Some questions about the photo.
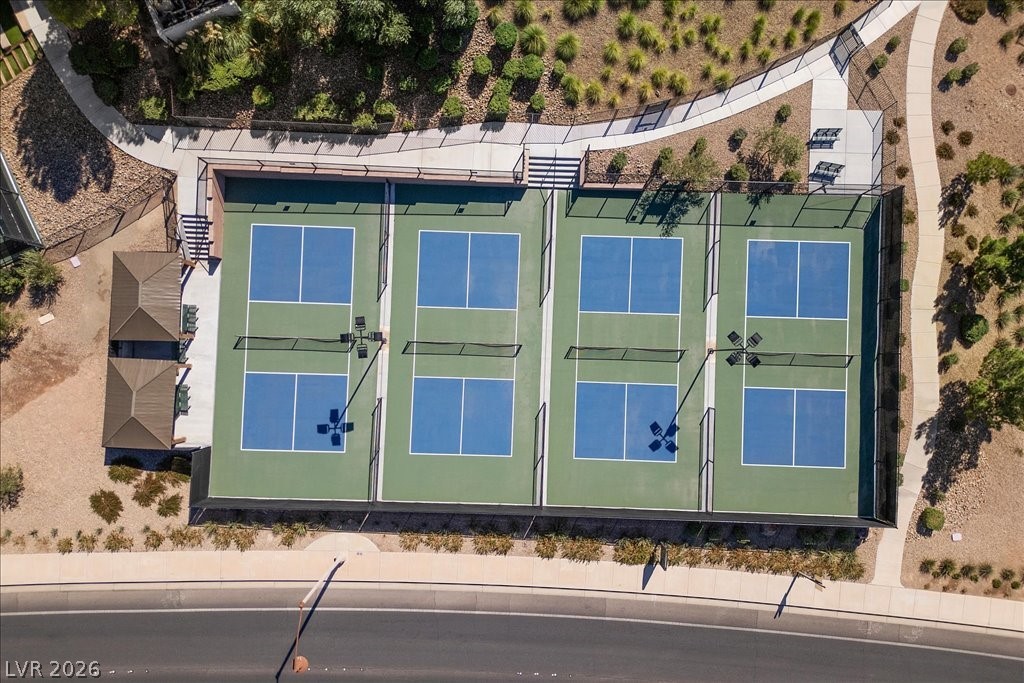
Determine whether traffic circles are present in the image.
No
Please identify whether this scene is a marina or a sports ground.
sports ground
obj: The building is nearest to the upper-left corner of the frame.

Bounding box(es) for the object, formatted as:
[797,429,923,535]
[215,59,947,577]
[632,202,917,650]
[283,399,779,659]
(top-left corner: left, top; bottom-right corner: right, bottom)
[106,251,197,341]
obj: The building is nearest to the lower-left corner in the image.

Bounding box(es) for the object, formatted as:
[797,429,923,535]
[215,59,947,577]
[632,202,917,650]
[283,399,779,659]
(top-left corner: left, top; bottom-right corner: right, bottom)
[101,357,193,450]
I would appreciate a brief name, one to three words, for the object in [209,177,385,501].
sports court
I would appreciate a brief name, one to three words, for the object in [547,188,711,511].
sports court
